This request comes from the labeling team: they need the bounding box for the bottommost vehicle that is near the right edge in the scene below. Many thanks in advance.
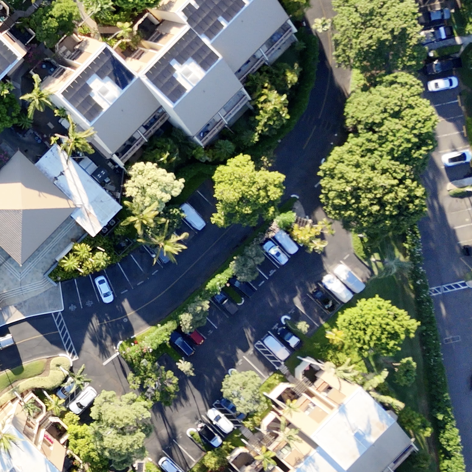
[459,245,472,259]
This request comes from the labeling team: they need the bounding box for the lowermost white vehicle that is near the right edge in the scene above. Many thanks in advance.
[439,151,472,165]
